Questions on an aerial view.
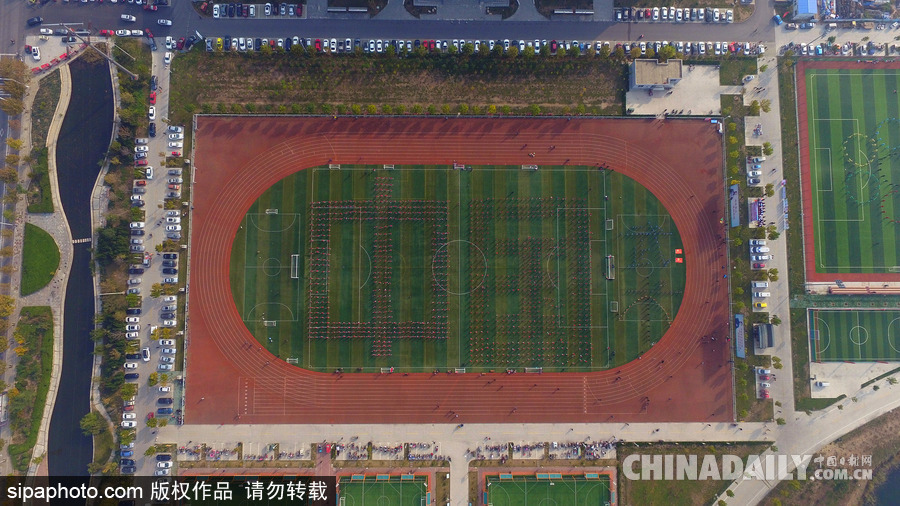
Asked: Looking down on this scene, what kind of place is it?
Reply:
sports ground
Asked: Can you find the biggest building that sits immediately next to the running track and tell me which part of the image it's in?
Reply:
top right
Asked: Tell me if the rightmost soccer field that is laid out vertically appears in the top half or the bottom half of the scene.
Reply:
top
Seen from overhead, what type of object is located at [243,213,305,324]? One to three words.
soccer field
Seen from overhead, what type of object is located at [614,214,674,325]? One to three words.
soccer field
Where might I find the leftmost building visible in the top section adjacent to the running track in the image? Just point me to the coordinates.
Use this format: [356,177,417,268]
[630,59,683,97]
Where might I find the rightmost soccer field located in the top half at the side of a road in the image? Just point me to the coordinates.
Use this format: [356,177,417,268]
[798,58,900,281]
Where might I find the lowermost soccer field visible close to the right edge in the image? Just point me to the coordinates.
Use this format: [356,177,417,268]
[809,307,900,362]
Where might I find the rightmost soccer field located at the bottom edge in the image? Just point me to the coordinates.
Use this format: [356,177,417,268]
[483,473,621,506]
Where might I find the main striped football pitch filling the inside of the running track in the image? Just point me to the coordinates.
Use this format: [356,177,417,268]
[229,164,686,372]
